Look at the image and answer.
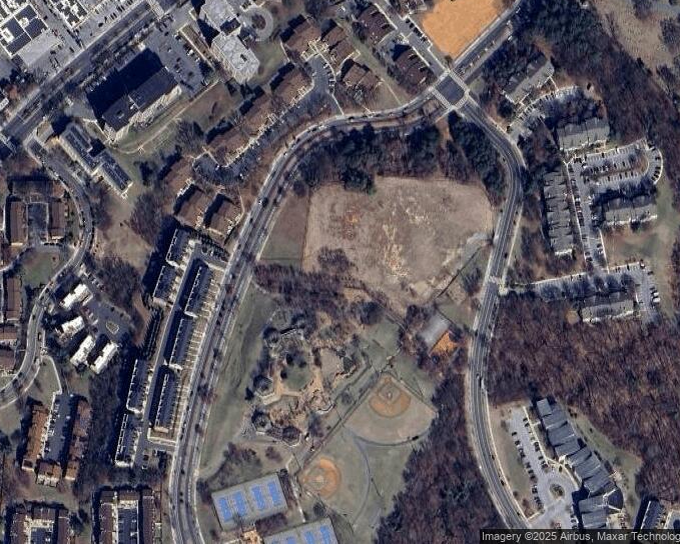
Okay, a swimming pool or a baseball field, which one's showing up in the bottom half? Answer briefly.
baseball field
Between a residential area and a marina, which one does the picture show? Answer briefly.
residential area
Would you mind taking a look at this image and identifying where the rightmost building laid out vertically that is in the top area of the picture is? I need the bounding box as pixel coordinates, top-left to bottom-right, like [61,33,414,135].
[544,171,574,258]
